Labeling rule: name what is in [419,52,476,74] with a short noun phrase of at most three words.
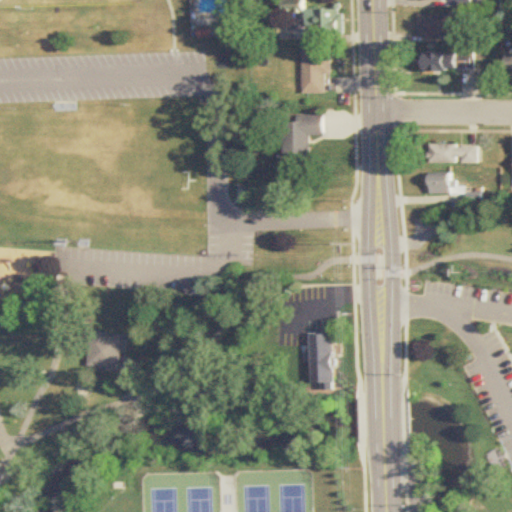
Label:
house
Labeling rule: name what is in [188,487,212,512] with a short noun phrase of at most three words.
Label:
tennis court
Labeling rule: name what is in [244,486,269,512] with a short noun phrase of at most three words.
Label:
tennis court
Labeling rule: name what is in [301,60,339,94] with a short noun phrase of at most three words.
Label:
house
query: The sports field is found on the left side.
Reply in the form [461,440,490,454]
[4,116,203,236]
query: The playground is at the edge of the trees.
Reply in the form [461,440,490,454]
[192,0,216,36]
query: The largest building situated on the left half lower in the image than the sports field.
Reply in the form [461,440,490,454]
[86,341,121,367]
